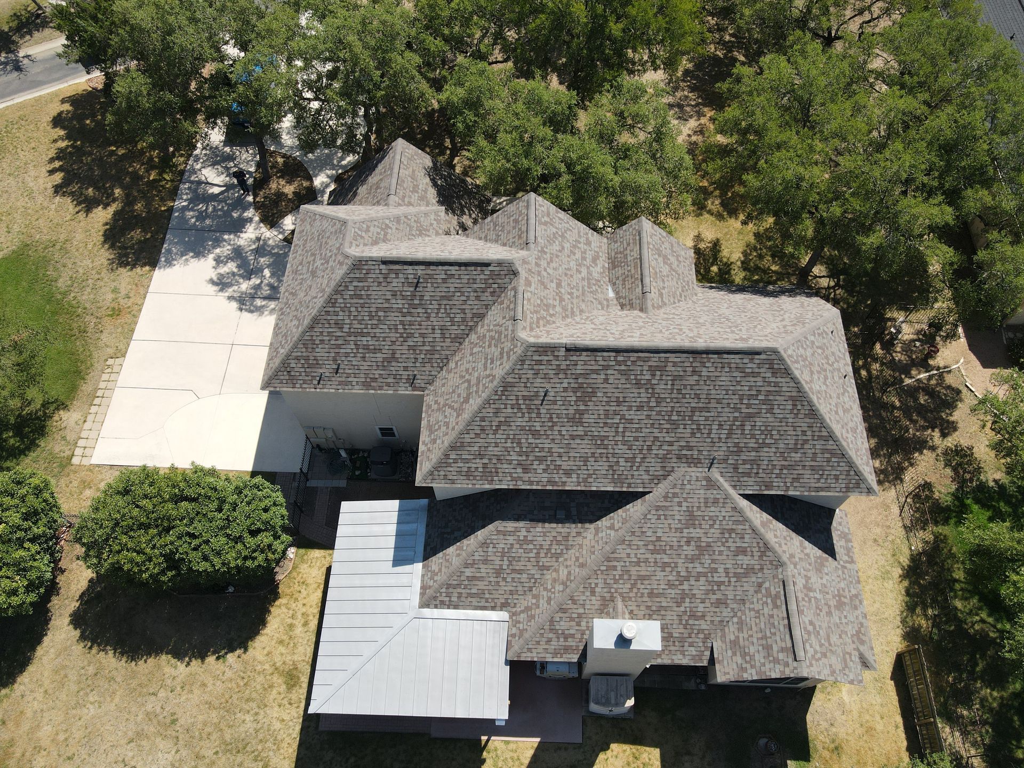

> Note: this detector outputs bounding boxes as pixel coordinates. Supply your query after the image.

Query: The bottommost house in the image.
[260,139,878,725]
